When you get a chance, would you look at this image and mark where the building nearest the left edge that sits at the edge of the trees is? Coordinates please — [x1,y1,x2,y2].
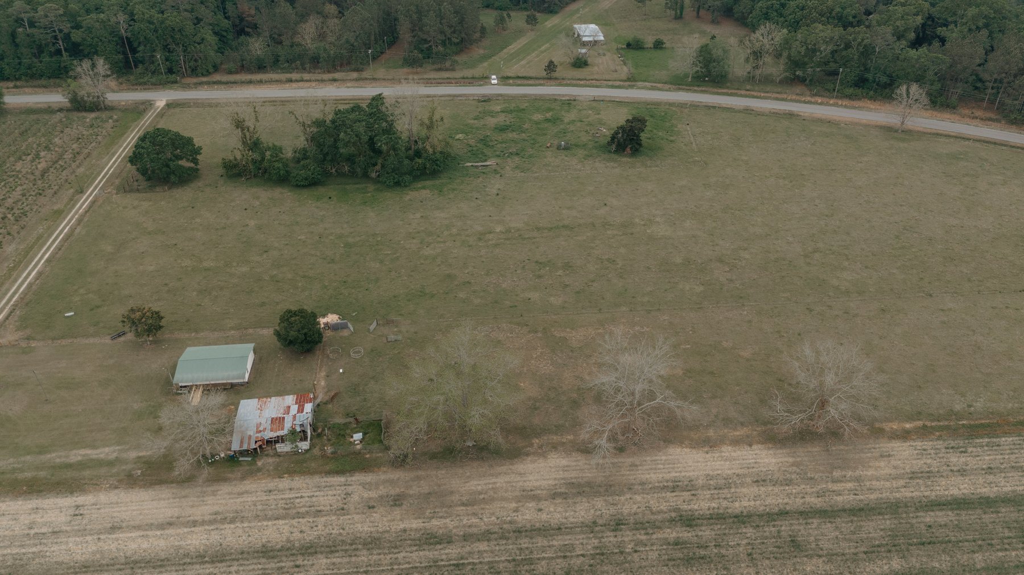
[171,344,258,412]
